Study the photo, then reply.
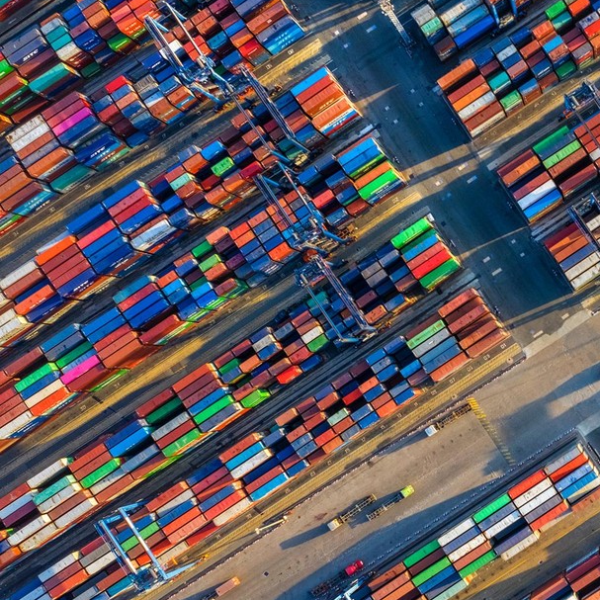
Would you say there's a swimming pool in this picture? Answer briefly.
No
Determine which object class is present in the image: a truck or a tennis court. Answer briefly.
truck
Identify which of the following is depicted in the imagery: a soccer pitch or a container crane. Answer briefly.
container crane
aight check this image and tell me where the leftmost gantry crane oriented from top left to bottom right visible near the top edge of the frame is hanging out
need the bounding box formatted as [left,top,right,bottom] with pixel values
[139,0,242,116]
